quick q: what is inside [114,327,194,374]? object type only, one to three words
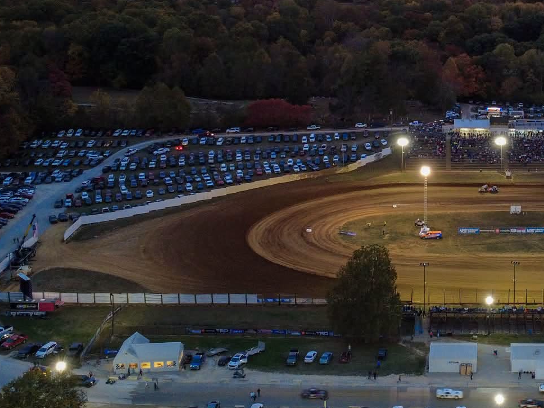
building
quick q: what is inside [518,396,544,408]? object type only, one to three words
vehicle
